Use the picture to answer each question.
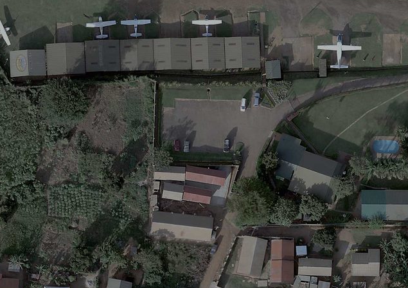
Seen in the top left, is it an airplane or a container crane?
airplane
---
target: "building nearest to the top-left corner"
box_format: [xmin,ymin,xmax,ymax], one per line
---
[9,50,45,78]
